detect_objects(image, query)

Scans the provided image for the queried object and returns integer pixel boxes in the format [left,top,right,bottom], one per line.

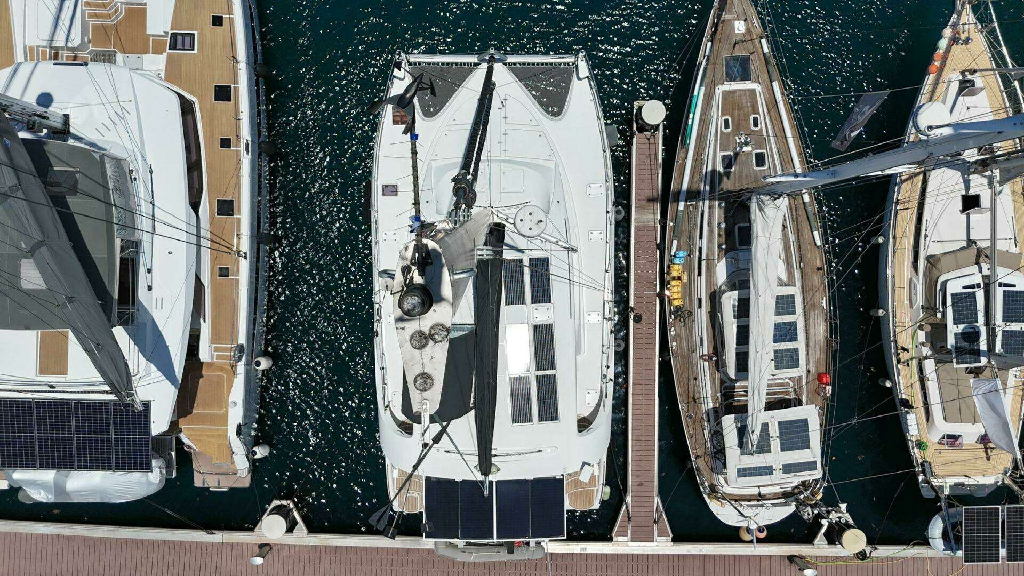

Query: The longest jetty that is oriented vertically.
[609,100,673,546]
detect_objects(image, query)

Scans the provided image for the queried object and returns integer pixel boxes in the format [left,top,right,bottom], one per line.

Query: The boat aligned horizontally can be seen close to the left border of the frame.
[0,447,166,505]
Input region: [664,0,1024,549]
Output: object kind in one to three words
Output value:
boat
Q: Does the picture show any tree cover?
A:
No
